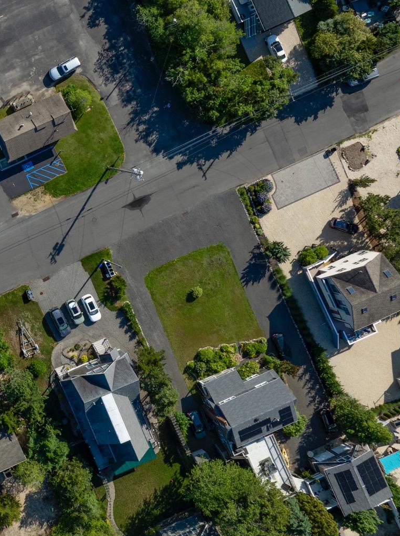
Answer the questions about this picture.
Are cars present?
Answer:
Yes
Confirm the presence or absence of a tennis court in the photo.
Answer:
No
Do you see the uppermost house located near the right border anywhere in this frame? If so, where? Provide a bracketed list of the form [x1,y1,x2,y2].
[294,251,400,350]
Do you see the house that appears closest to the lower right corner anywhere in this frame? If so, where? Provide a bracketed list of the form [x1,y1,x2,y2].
[289,436,392,515]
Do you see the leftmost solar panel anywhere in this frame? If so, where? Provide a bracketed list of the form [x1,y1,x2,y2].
[239,422,264,441]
